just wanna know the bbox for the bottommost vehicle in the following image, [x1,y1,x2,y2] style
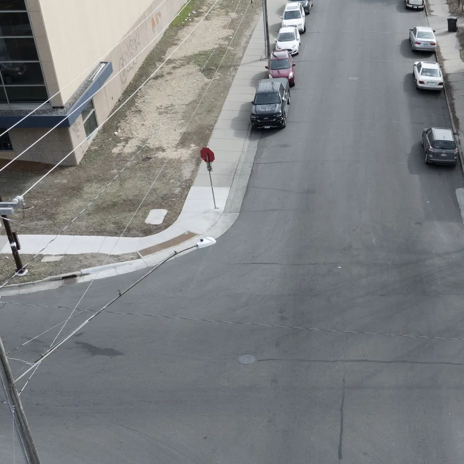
[419,123,460,165]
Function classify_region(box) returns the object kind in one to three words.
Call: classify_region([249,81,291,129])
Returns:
truck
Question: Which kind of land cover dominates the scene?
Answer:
paved ground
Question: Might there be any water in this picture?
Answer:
No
